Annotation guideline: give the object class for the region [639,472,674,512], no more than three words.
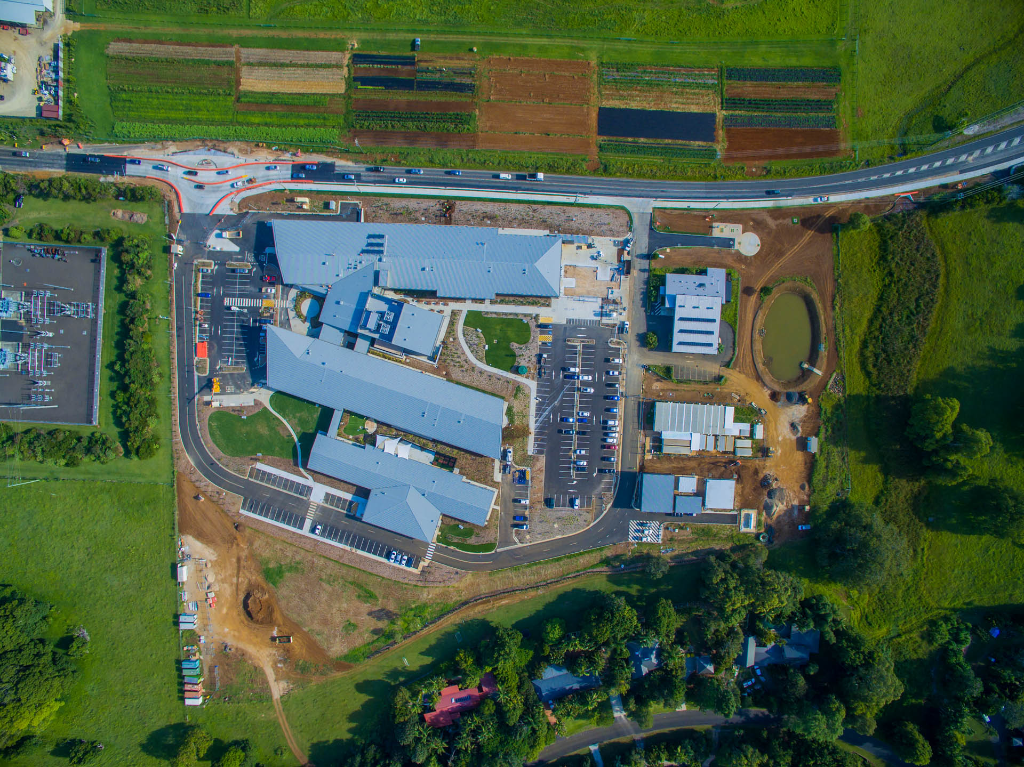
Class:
shed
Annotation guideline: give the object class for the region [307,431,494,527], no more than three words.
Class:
building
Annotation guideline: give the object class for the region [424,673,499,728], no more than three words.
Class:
house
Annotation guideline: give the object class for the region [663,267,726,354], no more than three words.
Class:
building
